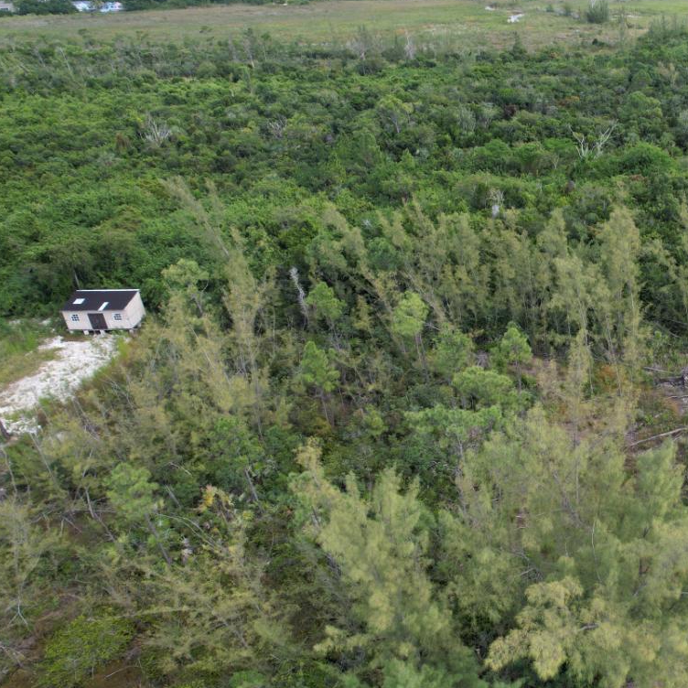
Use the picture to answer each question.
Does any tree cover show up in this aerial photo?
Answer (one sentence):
Yes, there's tree cover in this view.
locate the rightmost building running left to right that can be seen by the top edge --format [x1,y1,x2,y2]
[94,0,127,13]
